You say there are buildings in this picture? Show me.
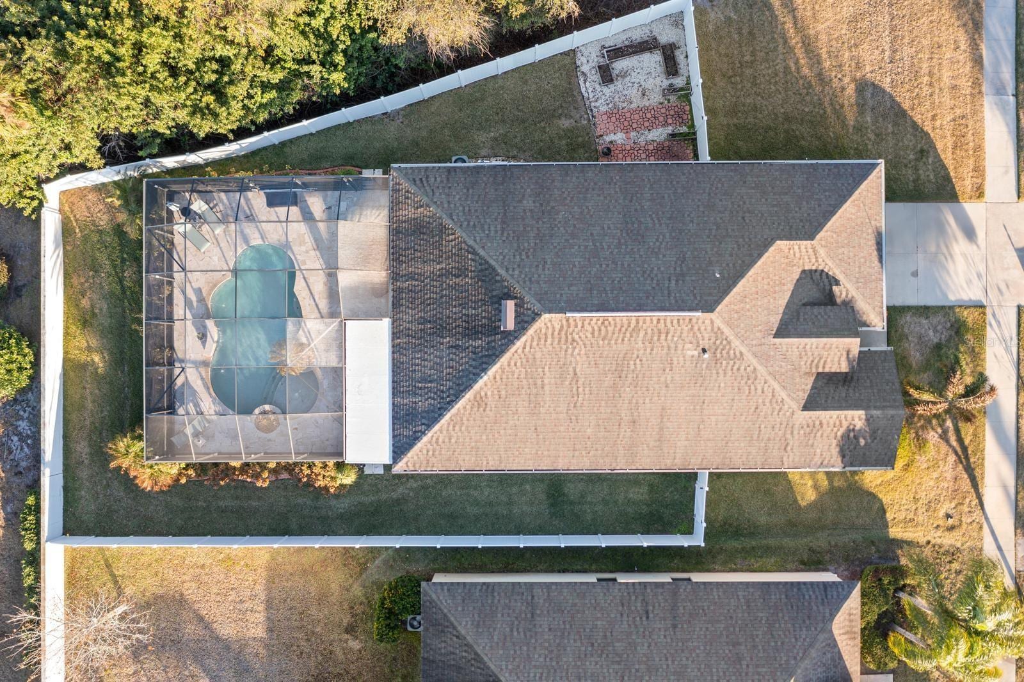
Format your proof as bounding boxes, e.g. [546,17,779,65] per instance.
[387,157,908,476]
[420,573,863,682]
